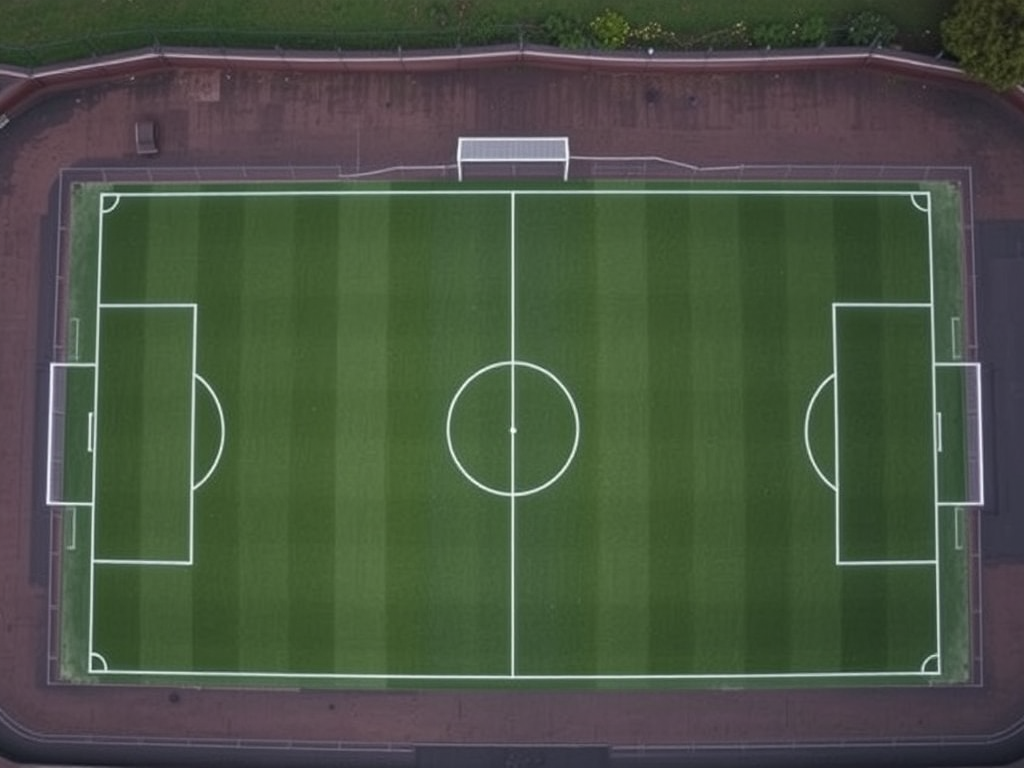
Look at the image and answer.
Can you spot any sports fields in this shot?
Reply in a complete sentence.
Yes, a sports field can be made out from above.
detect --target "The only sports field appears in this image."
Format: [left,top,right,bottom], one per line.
[57,177,974,692]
